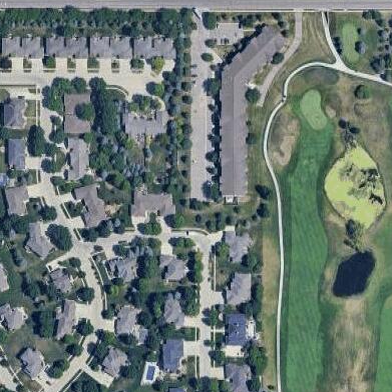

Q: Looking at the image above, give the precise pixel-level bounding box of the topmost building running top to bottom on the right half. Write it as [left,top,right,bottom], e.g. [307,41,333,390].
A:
[221,22,282,202]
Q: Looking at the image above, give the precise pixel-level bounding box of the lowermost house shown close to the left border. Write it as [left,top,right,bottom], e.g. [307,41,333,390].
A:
[18,345,44,383]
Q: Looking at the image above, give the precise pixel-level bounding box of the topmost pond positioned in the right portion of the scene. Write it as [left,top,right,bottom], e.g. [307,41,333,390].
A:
[325,146,385,229]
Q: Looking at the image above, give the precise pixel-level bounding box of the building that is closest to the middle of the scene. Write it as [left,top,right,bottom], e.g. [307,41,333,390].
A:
[134,190,172,216]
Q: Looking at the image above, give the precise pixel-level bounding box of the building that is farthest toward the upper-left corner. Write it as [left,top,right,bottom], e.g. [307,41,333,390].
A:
[2,34,43,58]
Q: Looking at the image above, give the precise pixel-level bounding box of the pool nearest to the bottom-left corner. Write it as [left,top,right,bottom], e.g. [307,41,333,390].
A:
[142,362,158,384]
